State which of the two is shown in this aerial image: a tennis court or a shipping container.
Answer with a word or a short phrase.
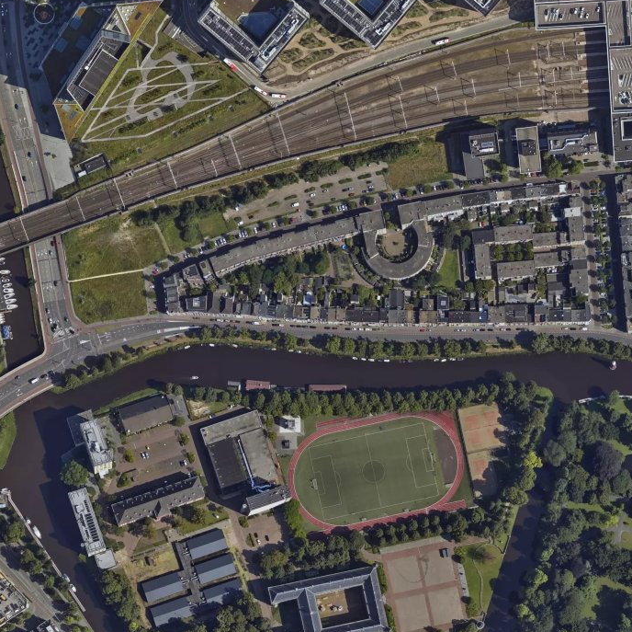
tennis court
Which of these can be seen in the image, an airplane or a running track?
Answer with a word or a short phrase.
running track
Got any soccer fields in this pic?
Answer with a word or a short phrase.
Yes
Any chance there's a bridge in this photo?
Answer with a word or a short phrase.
Yes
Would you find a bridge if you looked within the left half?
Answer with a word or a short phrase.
Yes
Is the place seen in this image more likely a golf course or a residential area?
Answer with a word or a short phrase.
residential area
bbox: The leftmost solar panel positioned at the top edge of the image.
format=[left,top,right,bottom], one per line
[205,11,255,59]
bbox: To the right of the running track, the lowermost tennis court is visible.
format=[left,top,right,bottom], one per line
[468,447,501,481]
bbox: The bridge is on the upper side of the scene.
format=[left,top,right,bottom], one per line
[0,23,610,257]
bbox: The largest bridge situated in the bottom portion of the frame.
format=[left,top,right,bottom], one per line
[6,350,55,409]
